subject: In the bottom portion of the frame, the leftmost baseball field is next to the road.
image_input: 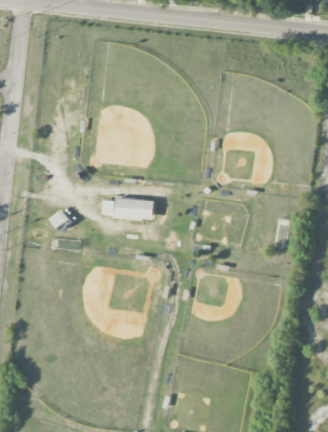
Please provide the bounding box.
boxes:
[20,253,168,431]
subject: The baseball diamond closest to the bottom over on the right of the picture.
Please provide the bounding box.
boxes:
[166,355,252,432]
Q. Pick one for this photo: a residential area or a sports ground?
sports ground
